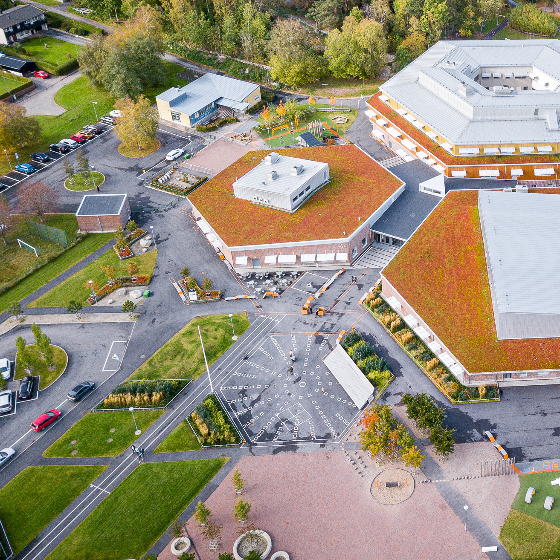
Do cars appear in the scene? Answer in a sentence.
Yes, looking at the shot, I can spot a car.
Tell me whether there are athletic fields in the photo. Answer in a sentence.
Yes, you can see an athletic field in this photo.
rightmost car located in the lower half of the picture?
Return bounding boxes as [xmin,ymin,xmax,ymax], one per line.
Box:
[64,379,96,403]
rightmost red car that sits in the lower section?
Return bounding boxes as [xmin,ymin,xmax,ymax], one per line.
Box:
[28,408,64,434]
